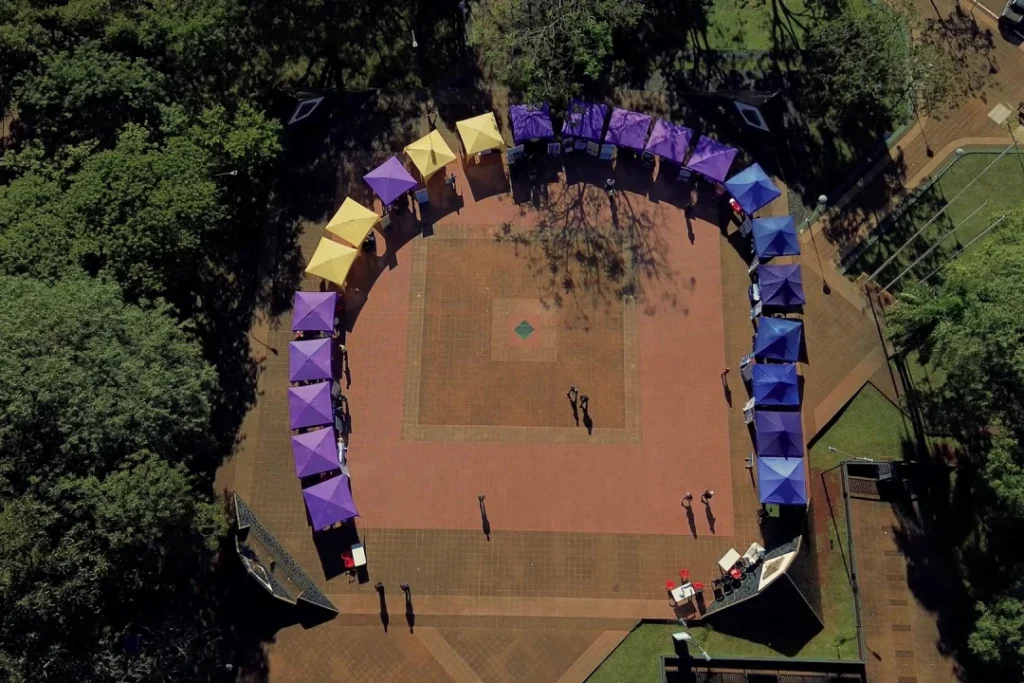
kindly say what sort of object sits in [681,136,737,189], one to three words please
gazebo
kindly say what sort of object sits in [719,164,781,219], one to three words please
gazebo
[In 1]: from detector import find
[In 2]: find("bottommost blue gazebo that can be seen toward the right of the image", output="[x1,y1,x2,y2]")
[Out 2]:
[752,458,806,508]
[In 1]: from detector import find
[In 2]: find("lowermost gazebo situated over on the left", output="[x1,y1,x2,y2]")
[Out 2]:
[304,474,364,535]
